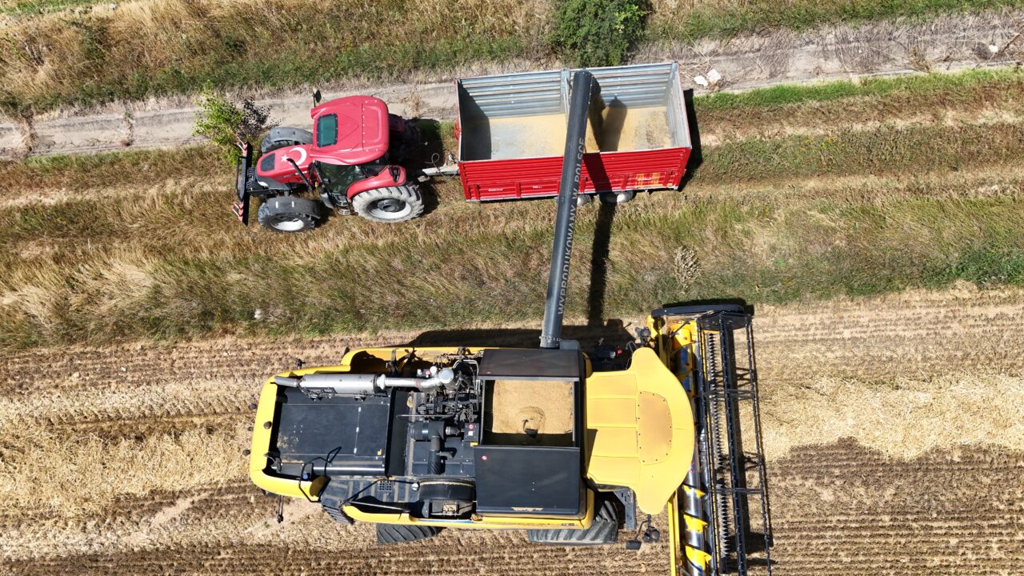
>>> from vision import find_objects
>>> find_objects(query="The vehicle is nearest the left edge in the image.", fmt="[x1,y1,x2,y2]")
[232,88,434,233]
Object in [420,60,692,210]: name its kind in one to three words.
trailer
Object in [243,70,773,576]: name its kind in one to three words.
work vehicle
